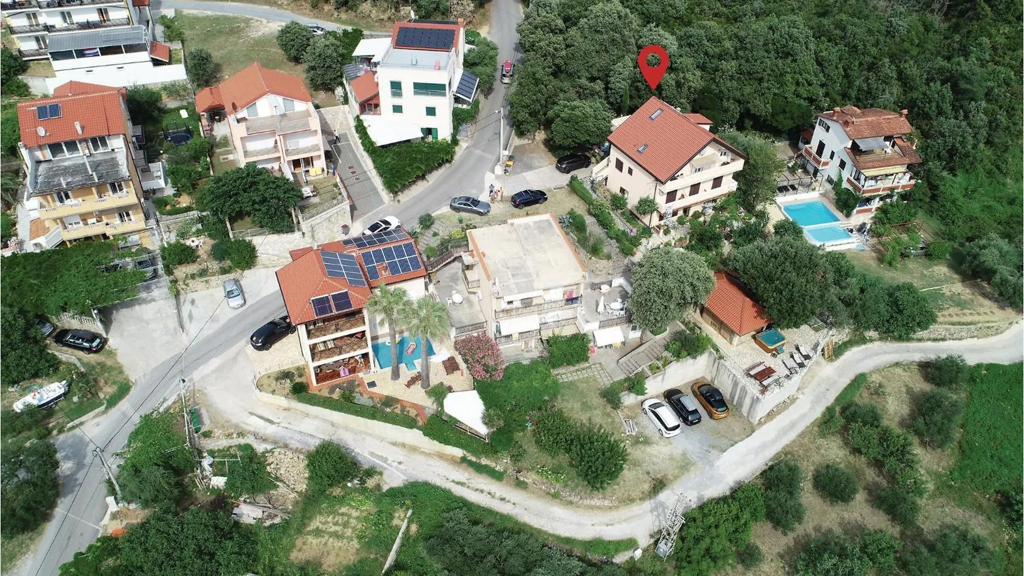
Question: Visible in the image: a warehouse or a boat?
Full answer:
Visible in the photo is a boat.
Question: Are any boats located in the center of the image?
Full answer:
No, I can find no boat in the center of the image.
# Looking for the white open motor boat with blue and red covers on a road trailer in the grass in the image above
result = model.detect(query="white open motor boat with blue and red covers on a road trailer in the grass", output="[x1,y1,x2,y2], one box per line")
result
[4,373,72,416]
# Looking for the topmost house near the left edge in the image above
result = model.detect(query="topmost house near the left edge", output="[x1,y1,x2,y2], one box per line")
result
[0,0,195,97]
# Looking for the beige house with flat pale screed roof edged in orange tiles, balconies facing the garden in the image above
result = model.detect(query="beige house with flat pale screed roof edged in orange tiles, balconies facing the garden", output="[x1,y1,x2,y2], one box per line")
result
[447,205,589,355]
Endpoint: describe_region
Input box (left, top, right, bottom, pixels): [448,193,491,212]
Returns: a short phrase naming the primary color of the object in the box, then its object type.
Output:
gray car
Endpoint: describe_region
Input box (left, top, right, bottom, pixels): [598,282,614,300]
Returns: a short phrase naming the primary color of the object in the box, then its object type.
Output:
white umbrella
